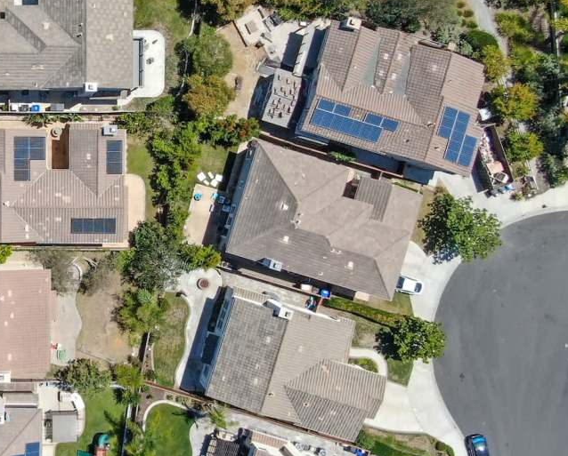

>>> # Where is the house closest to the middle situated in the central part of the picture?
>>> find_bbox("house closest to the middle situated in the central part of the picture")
[221,140,424,301]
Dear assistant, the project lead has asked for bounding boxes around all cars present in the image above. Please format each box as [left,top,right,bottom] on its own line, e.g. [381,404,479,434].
[464,433,487,456]
[394,275,427,296]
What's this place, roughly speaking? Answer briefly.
residential area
